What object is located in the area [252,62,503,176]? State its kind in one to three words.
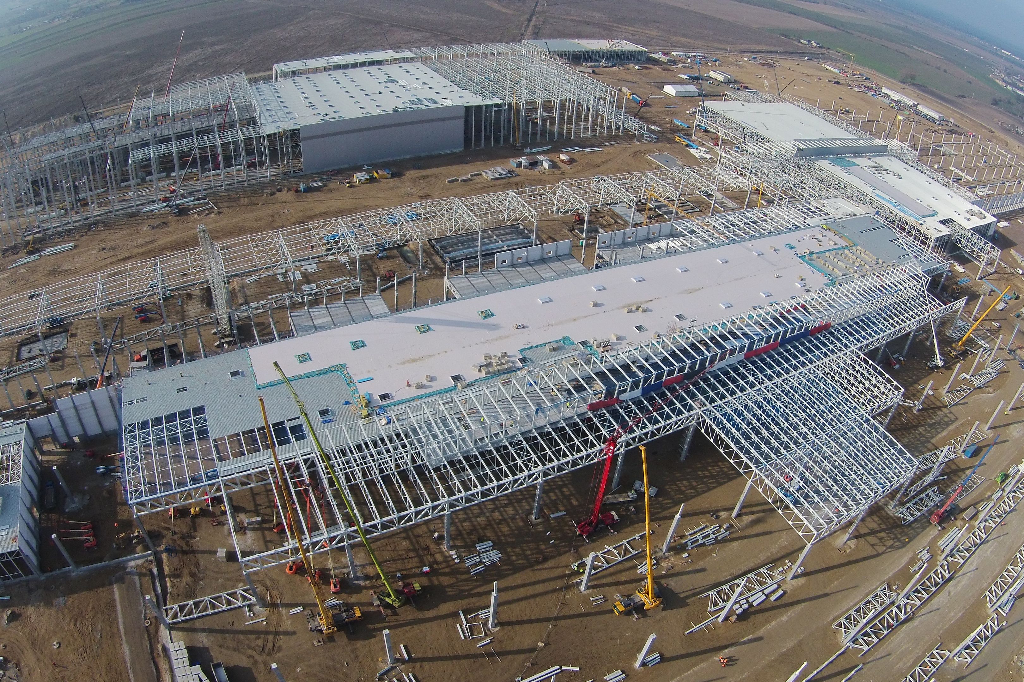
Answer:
building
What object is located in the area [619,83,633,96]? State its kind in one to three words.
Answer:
vehicle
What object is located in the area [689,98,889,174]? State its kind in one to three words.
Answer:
building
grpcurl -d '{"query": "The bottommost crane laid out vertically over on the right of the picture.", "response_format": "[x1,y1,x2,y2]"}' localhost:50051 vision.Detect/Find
[595,439,677,629]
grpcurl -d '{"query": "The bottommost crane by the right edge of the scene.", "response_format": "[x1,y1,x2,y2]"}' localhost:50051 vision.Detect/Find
[921,450,991,536]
